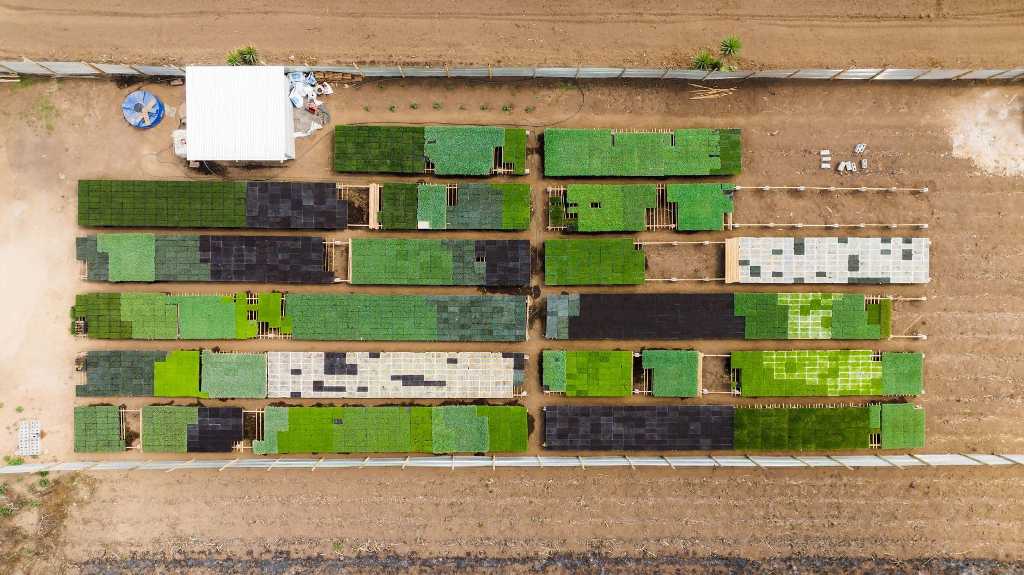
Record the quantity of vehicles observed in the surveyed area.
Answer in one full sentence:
The count of vehicles is 0.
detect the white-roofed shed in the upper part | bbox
[186,66,295,163]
